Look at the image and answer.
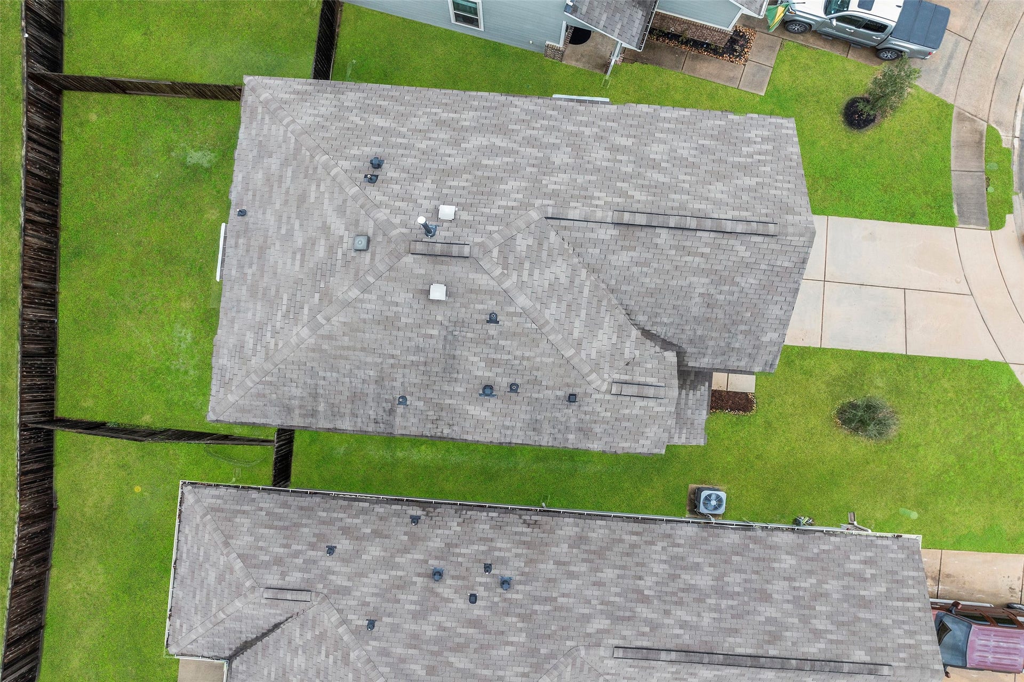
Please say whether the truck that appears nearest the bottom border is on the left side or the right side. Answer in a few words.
right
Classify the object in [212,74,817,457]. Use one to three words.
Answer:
house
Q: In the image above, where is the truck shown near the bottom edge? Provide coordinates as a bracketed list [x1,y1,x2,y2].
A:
[930,592,1024,680]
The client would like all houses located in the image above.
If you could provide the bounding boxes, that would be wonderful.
[212,74,817,457]
[166,481,948,682]
[343,0,771,92]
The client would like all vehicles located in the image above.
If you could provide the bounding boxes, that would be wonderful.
[774,0,951,63]
[930,592,1024,680]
